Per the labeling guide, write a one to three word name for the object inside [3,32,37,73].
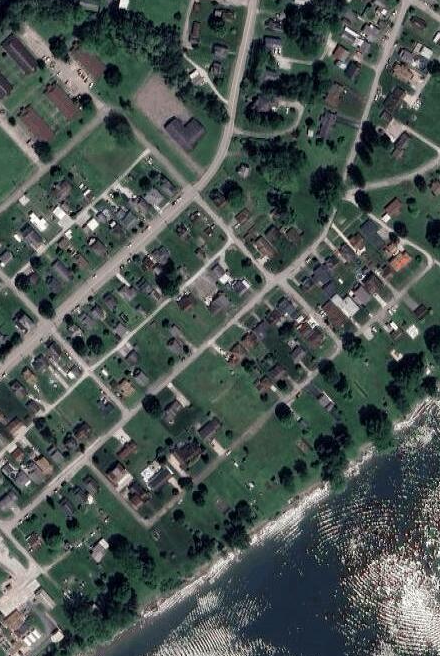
building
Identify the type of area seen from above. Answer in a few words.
residential area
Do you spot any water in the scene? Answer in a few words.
Yes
